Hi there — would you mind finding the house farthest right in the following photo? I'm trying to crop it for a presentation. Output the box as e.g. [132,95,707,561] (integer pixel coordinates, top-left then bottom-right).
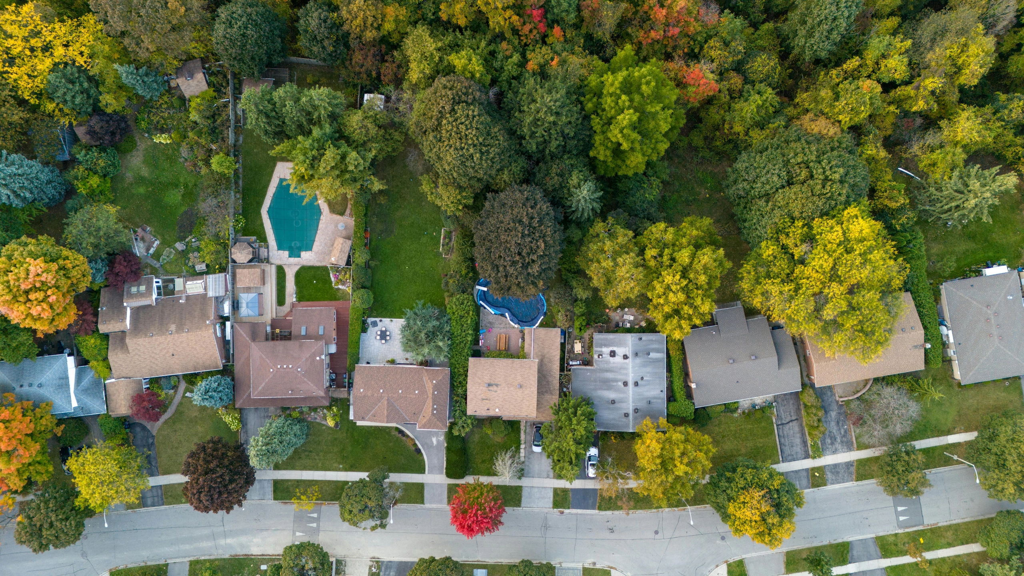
[936,265,1024,385]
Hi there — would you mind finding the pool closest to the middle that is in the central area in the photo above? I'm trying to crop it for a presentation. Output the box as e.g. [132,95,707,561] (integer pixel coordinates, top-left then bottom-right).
[475,276,547,329]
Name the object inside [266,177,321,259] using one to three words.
swimming pool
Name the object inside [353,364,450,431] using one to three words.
house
